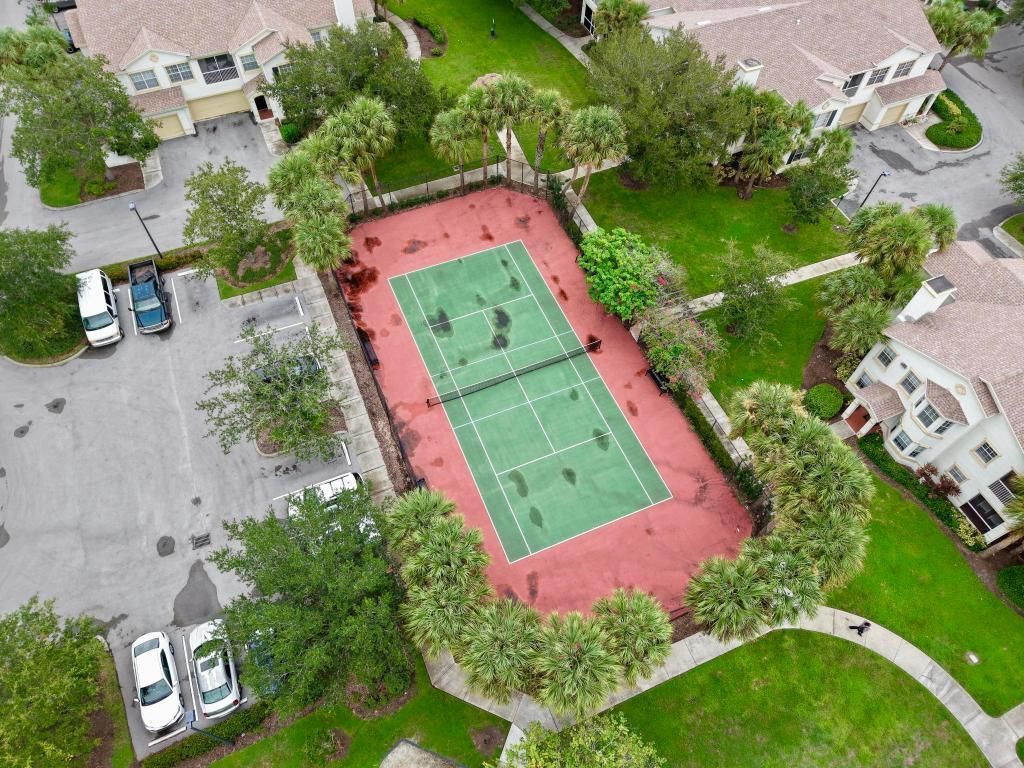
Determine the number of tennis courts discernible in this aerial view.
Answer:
1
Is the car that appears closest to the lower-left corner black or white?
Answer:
white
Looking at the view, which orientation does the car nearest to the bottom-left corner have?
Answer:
vertically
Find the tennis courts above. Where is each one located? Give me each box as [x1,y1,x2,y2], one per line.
[333,186,751,646]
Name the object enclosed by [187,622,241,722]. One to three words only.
car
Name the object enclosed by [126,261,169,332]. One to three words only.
truck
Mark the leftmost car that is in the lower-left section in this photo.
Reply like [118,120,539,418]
[133,632,184,734]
